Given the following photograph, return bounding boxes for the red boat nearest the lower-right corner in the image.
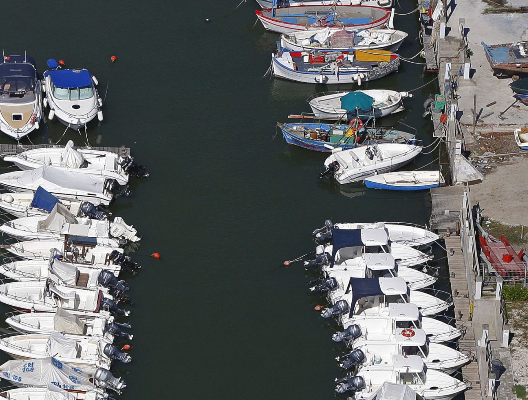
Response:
[481,228,524,277]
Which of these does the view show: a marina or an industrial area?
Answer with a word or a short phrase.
marina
